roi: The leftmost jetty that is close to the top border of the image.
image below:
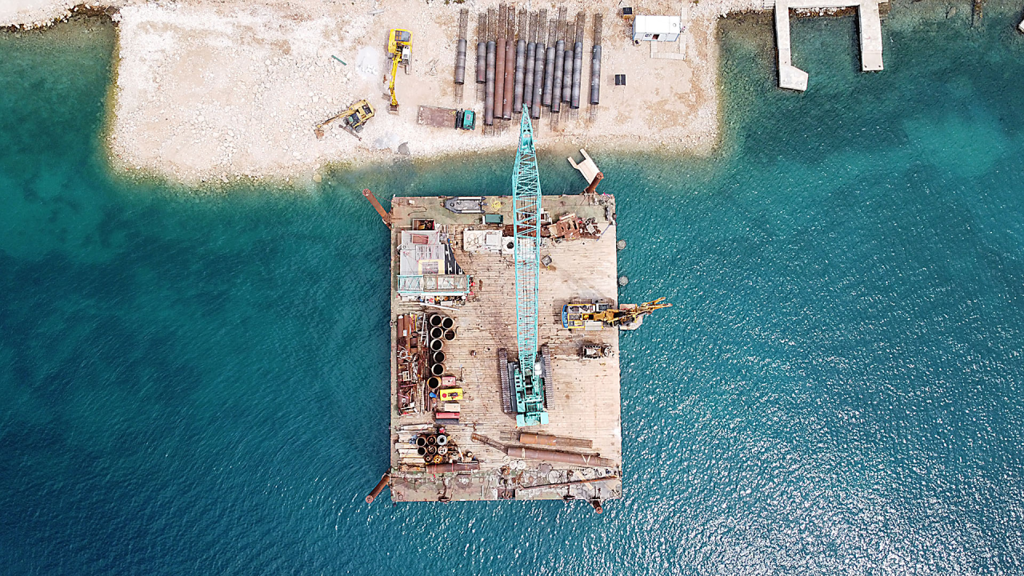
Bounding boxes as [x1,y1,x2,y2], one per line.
[771,0,884,93]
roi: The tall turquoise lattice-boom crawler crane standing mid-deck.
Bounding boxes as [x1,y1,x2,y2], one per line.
[499,103,555,428]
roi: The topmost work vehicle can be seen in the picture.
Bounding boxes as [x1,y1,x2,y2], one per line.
[387,28,414,106]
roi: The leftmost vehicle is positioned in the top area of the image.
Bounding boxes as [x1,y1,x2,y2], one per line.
[320,101,375,139]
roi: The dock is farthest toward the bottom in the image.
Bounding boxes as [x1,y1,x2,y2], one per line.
[568,149,597,185]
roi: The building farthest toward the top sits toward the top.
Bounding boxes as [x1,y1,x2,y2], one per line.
[632,15,681,42]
